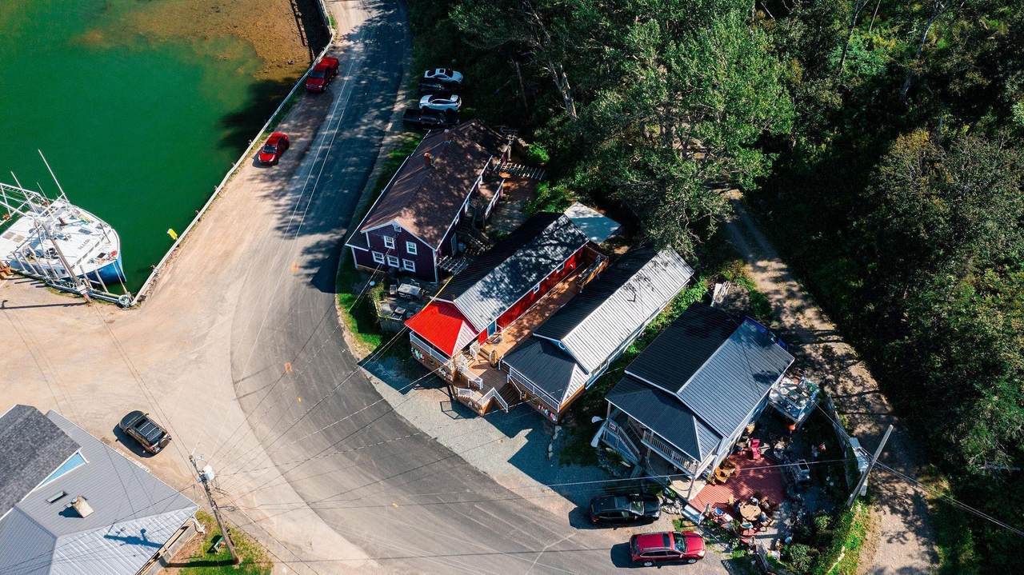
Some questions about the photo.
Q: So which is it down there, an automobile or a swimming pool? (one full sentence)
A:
Of the two, only an automobile appears.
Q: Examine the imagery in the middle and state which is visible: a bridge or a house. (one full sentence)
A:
You can see a house in the middle.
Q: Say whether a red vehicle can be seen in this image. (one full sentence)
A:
Yes, the picture does show a red vehicle.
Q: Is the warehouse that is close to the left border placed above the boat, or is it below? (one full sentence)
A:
It's below the boat that the warehouse that is close to the left border shows up.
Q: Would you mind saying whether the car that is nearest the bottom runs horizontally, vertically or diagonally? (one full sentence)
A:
In this picture, the car that is nearest the bottom lies horizontally.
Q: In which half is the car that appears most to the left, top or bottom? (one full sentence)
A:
Seen from above, the car that appears most to the left lies in the bottom half of the view.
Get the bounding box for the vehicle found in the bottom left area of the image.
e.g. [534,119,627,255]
[108,408,175,457]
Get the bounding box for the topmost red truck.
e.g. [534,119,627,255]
[301,54,341,90]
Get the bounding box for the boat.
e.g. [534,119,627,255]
[0,139,130,283]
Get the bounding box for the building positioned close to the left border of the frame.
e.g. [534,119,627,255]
[0,396,202,575]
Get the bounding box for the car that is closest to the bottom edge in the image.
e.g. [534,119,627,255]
[623,522,708,564]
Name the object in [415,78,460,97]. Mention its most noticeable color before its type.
black car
